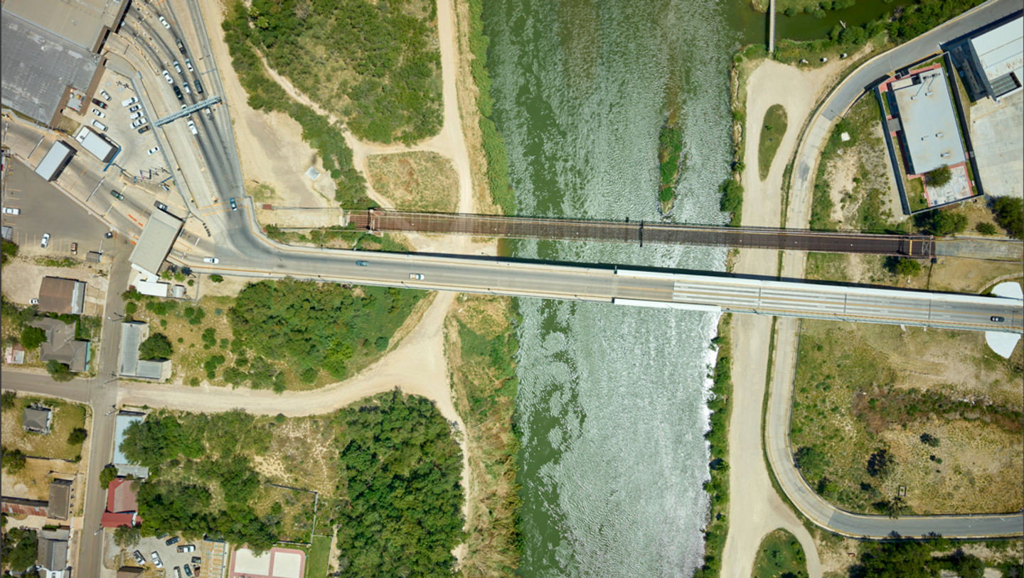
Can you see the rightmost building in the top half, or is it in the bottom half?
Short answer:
top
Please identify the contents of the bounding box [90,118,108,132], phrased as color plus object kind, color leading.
white vehicle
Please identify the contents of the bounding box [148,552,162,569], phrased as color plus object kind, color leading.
white vehicle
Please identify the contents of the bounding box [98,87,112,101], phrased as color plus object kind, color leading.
white car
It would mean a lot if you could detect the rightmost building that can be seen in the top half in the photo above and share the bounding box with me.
[957,17,1024,87]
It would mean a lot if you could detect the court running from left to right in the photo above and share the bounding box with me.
[229,544,306,578]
